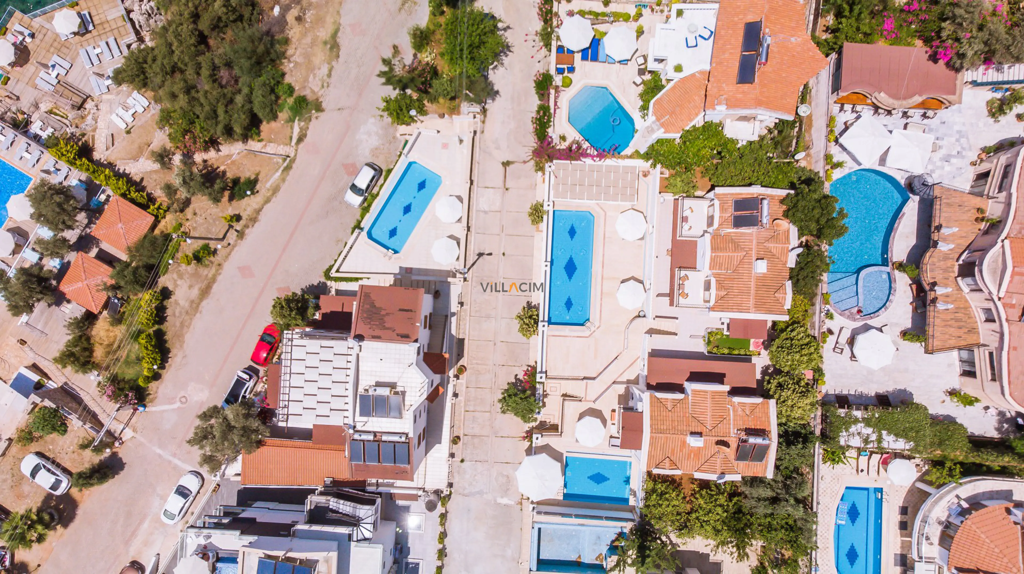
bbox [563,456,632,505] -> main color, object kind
blue swimming pool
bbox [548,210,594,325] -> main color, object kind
blue swimming pool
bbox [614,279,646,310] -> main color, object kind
white umbrella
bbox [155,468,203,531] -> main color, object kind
white car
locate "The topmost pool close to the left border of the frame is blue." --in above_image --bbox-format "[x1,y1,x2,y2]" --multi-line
[0,158,33,228]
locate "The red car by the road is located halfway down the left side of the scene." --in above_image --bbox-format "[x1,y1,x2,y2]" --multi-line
[248,322,280,369]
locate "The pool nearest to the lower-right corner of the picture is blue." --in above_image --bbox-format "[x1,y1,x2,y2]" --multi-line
[834,487,882,574]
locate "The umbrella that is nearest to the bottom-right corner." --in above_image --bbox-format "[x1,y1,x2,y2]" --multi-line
[885,457,915,486]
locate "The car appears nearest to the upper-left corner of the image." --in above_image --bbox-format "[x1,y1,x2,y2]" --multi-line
[344,158,385,210]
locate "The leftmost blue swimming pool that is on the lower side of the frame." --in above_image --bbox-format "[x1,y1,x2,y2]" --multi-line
[22,374,41,397]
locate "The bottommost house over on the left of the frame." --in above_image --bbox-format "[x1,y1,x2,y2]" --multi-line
[169,479,402,574]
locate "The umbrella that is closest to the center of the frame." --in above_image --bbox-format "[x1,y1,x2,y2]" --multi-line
[431,236,460,266]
